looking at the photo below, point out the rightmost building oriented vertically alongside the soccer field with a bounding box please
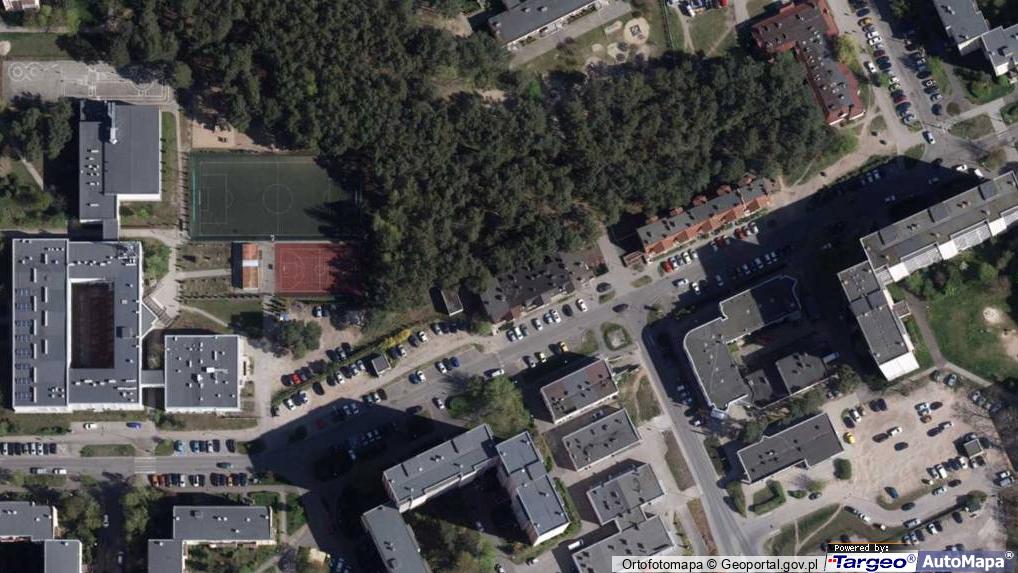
[243,244,258,290]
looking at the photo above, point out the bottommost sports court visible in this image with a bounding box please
[274,244,361,293]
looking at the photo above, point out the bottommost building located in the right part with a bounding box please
[573,516,675,573]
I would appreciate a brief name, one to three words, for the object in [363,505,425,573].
building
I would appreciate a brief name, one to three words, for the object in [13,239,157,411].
building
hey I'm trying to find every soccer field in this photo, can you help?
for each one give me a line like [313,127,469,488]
[190,152,362,239]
